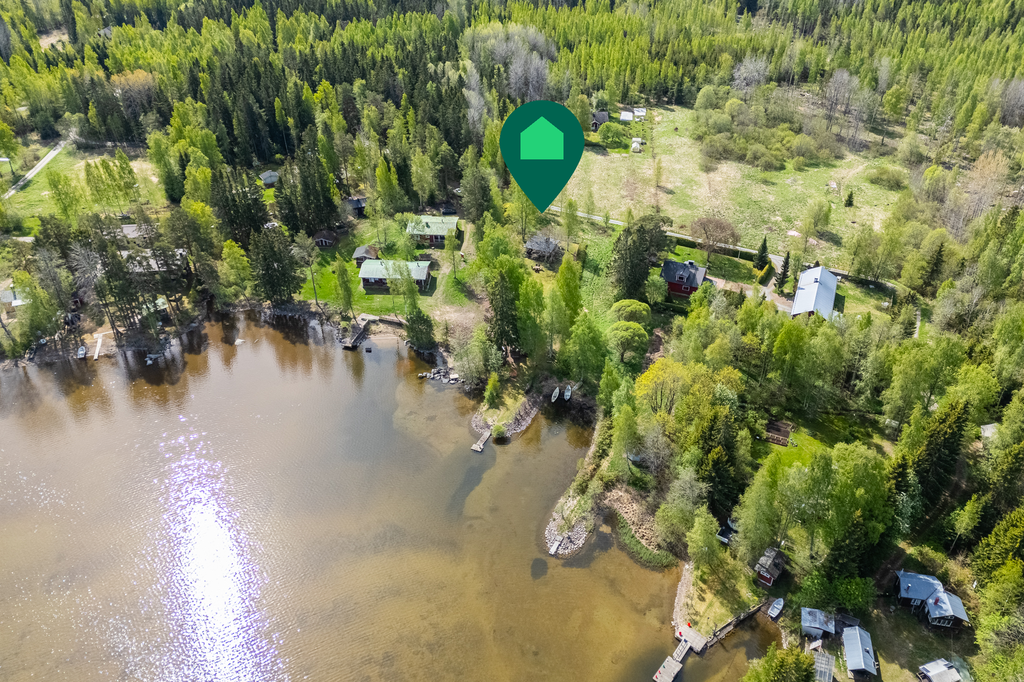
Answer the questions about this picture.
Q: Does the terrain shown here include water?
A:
Yes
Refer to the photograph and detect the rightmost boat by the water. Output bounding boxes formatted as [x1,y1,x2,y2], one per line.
[768,597,783,620]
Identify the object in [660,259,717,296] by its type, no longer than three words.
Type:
house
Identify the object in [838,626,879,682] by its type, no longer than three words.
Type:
shed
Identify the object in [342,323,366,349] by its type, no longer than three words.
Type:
pier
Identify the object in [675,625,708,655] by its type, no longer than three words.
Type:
pier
